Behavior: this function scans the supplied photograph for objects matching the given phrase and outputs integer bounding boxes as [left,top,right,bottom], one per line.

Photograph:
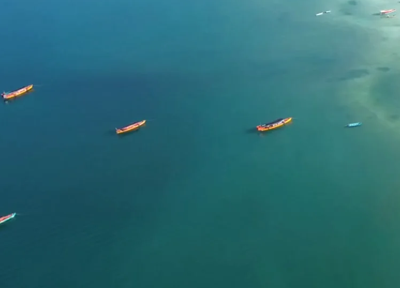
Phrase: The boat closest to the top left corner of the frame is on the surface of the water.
[1,83,33,99]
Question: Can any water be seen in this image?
Yes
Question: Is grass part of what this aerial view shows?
No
